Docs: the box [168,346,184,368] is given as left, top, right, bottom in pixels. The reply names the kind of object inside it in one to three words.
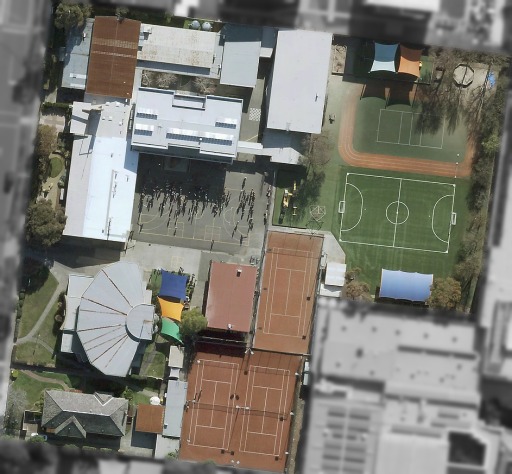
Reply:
shed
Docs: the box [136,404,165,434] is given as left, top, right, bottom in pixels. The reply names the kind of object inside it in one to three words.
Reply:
building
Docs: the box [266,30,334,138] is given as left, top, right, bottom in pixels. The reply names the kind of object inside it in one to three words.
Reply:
building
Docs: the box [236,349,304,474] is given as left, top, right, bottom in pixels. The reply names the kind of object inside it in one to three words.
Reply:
tennis court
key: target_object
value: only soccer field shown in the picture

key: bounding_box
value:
[331,168,476,305]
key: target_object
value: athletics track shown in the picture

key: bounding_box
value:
[340,82,474,178]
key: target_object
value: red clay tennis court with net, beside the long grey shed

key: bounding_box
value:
[177,344,249,470]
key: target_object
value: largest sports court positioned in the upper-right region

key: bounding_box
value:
[352,80,466,162]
